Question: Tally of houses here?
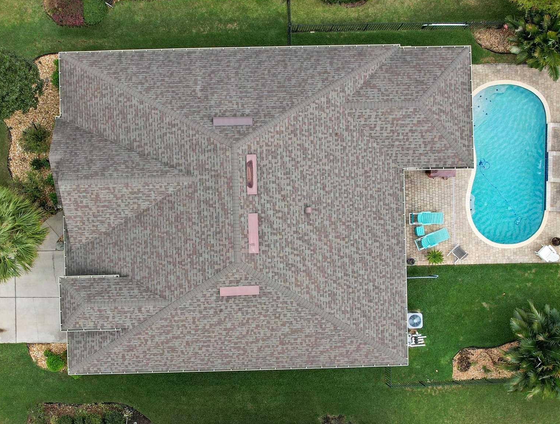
one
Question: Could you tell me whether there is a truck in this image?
No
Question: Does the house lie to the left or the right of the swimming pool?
on the left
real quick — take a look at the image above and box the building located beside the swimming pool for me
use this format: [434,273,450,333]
[49,42,476,378]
